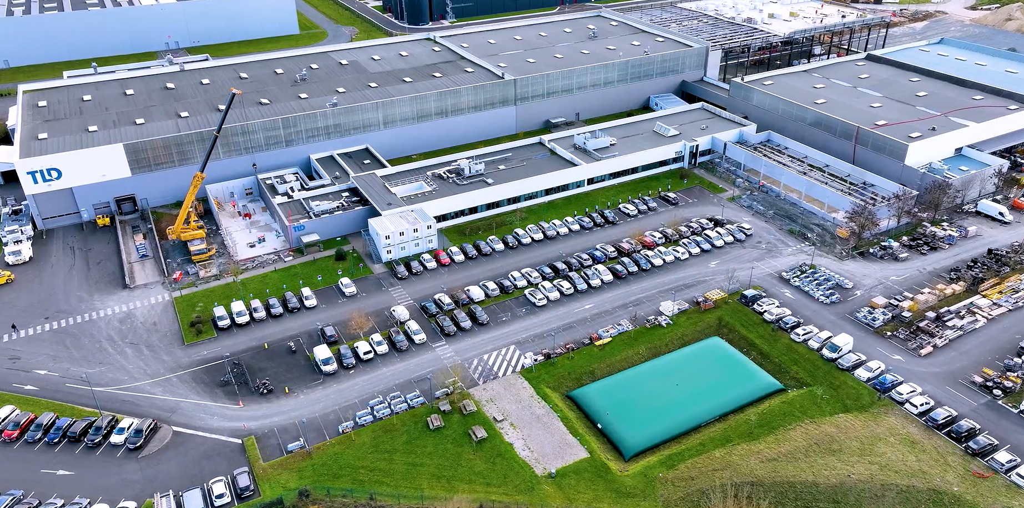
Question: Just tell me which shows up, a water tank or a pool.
water tank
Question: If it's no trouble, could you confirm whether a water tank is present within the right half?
Yes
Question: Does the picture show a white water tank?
No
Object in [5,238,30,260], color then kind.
white work vehicle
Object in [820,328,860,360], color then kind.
white van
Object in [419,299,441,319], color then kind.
blue car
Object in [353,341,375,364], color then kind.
white vehicle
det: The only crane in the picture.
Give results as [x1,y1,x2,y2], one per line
[167,88,256,262]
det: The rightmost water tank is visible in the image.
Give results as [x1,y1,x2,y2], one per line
[567,338,787,463]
